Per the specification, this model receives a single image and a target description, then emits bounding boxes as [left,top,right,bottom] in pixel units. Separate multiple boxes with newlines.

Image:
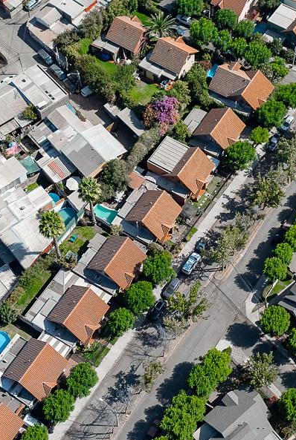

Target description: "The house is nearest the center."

[113,181,201,257]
